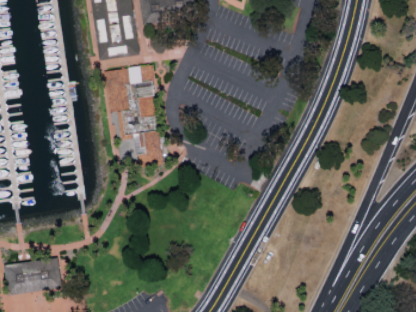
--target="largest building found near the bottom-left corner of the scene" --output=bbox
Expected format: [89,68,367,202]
[4,258,62,296]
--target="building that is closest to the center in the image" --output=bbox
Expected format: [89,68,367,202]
[104,64,166,166]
